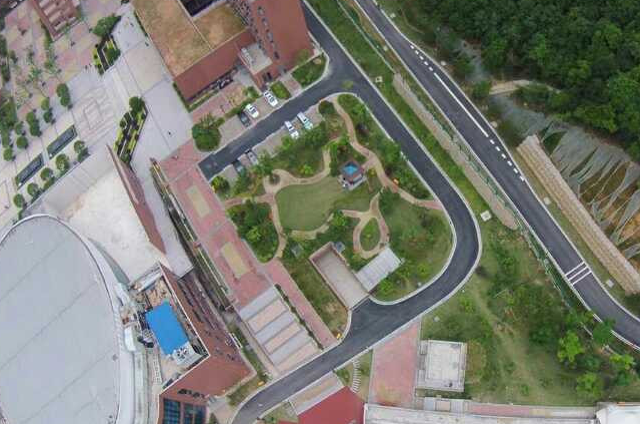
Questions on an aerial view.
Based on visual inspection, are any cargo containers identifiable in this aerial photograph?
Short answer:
No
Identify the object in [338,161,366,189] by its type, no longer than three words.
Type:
building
